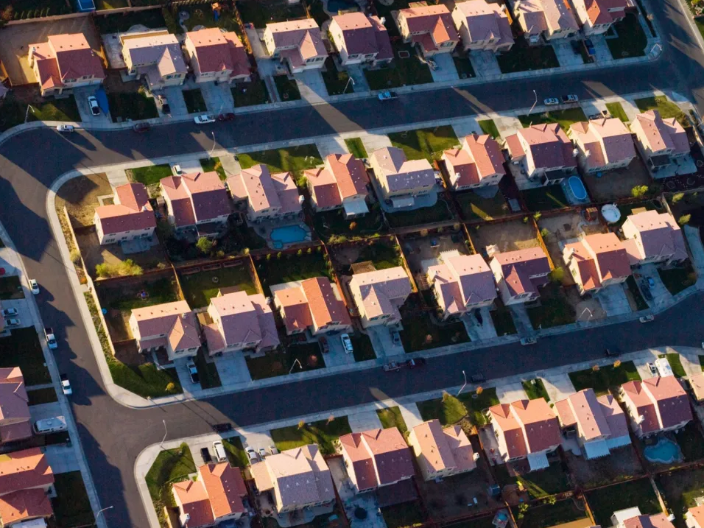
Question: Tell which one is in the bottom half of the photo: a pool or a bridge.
pool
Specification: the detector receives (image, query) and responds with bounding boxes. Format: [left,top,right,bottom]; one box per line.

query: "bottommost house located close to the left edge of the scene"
[0,453,55,528]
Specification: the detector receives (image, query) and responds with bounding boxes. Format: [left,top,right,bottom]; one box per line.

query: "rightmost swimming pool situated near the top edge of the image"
[326,0,365,14]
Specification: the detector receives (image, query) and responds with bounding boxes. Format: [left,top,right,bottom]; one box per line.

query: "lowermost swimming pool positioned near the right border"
[642,437,682,462]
